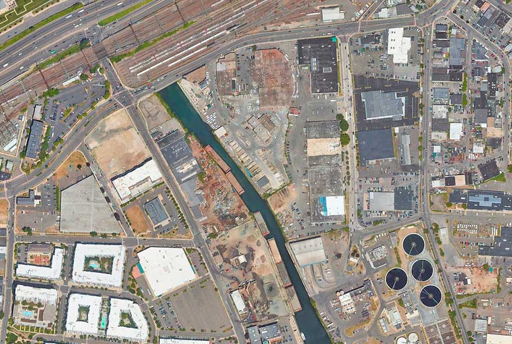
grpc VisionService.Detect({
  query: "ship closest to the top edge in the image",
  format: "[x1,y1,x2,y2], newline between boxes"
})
[205,145,229,171]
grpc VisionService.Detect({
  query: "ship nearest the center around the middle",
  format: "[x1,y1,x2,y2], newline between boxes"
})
[224,172,246,195]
